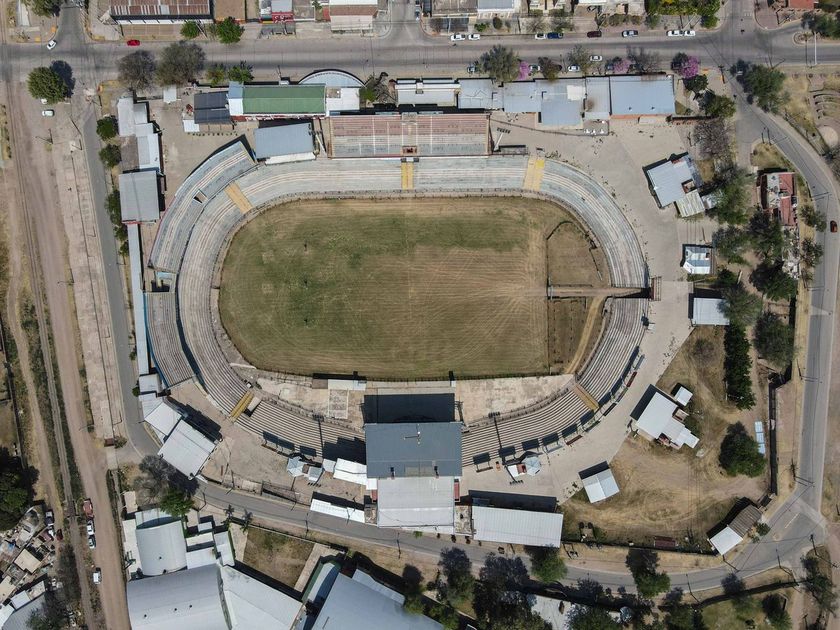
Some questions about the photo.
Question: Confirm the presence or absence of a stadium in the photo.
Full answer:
Yes, the picture does show a stadium.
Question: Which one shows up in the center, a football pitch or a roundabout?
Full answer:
The one visible in the center is a football pitch.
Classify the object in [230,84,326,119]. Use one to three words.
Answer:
building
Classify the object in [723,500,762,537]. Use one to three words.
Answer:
barn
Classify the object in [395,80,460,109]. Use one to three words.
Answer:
building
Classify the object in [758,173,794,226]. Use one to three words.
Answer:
house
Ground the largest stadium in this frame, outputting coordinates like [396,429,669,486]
[144,112,660,531]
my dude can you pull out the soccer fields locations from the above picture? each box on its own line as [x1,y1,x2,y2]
[209,189,646,450]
